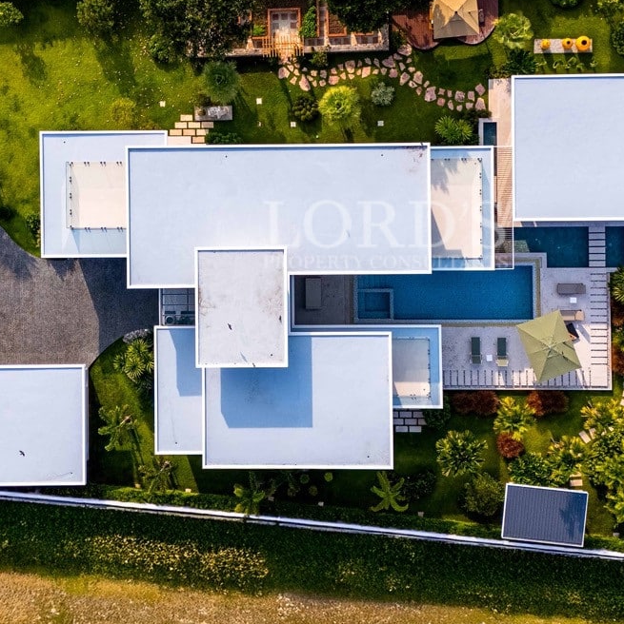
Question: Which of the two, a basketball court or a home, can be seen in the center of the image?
home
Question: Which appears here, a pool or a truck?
pool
